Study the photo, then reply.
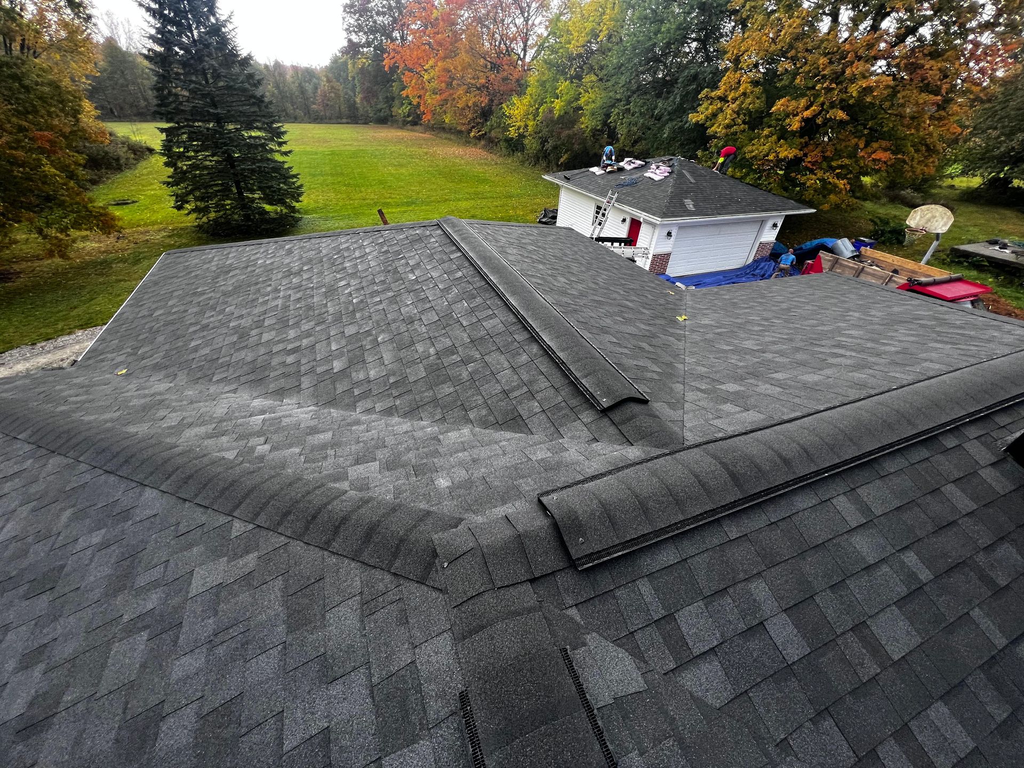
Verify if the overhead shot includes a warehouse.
No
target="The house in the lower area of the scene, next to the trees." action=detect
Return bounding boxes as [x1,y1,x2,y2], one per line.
[0,219,1024,768]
